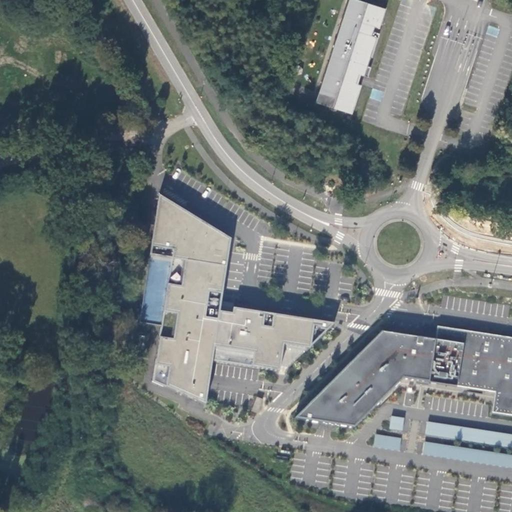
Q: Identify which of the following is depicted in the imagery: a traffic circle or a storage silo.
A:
traffic circle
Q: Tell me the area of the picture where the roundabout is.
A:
right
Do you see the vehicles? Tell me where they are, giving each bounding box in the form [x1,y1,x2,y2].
[276,454,290,460]
[340,294,351,300]
[442,24,450,36]
[202,187,212,198]
[280,450,291,454]
[172,168,180,179]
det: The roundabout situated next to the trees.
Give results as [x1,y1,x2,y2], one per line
[361,206,436,280]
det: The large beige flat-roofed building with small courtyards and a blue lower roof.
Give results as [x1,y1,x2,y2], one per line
[144,194,334,402]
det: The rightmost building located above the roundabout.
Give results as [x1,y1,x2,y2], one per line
[316,0,384,115]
